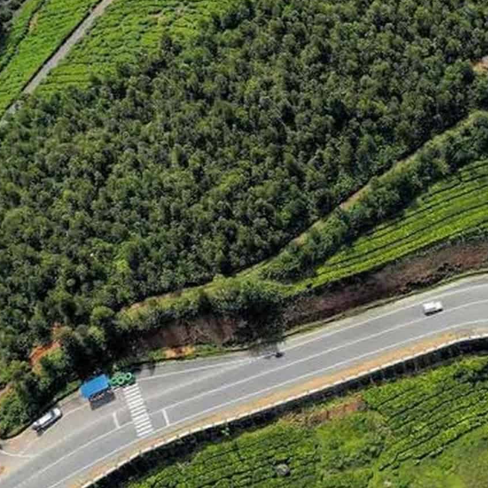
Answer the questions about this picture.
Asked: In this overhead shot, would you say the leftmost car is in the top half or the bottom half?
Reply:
bottom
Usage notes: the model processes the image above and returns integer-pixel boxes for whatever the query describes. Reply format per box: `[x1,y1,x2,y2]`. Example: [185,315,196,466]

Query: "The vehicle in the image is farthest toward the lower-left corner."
[33,410,63,432]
